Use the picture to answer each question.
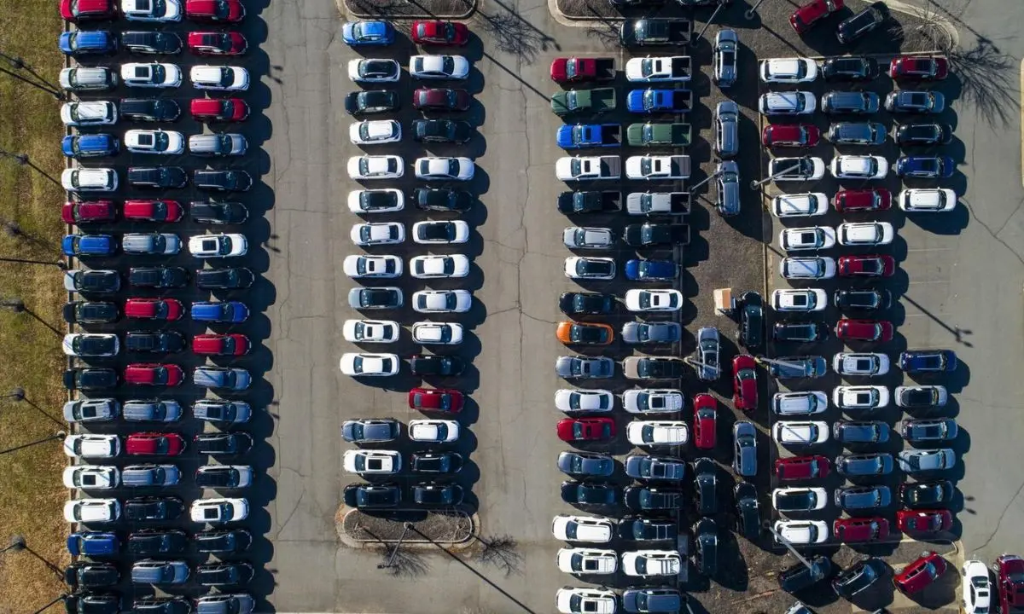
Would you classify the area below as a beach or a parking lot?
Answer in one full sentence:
The area seen from above is a parking lot.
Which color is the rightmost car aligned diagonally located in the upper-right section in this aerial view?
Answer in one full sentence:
In this view, the rightmost car aligned diagonally located in the upper-right section is black.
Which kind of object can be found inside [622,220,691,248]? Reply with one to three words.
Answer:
truck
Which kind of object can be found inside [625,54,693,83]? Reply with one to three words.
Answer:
truck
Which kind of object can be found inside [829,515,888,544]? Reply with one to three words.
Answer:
car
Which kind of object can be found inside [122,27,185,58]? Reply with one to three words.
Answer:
car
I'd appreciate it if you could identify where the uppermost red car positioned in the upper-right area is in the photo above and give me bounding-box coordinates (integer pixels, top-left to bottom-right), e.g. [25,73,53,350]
[786,0,845,33]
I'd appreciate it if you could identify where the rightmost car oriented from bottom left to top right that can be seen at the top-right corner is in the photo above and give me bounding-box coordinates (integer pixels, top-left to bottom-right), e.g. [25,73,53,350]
[832,1,889,46]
